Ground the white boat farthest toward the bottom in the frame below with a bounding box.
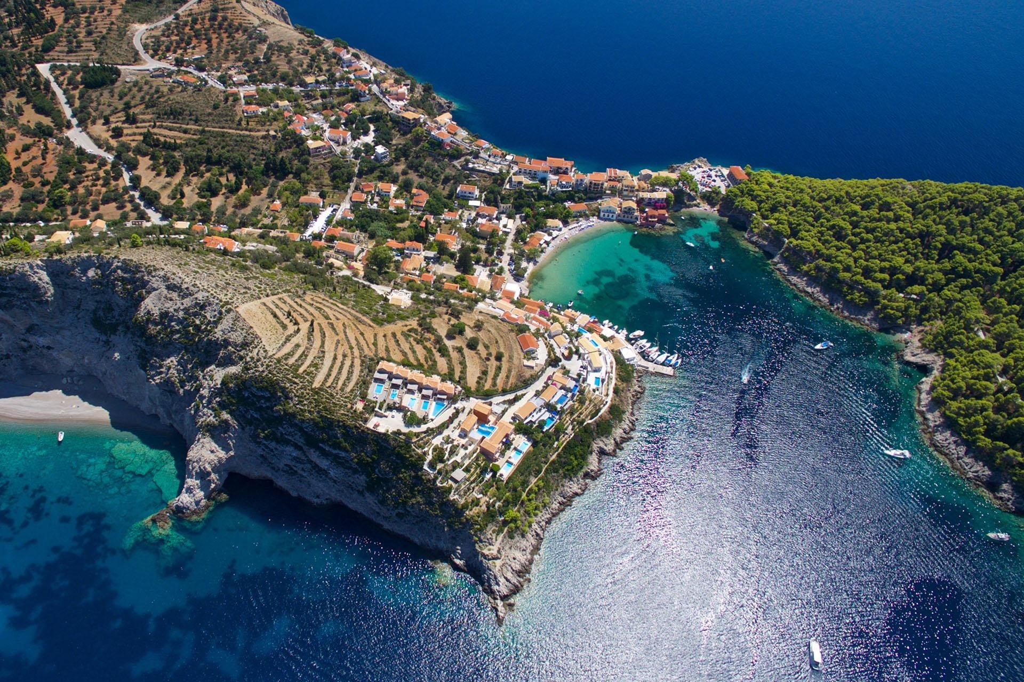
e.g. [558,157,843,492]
[810,636,823,670]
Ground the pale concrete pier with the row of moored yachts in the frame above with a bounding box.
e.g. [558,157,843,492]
[623,339,674,377]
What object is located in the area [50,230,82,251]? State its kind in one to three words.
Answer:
house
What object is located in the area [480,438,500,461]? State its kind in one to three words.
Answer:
house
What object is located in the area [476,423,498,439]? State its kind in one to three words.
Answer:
swimming pool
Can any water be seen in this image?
Yes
